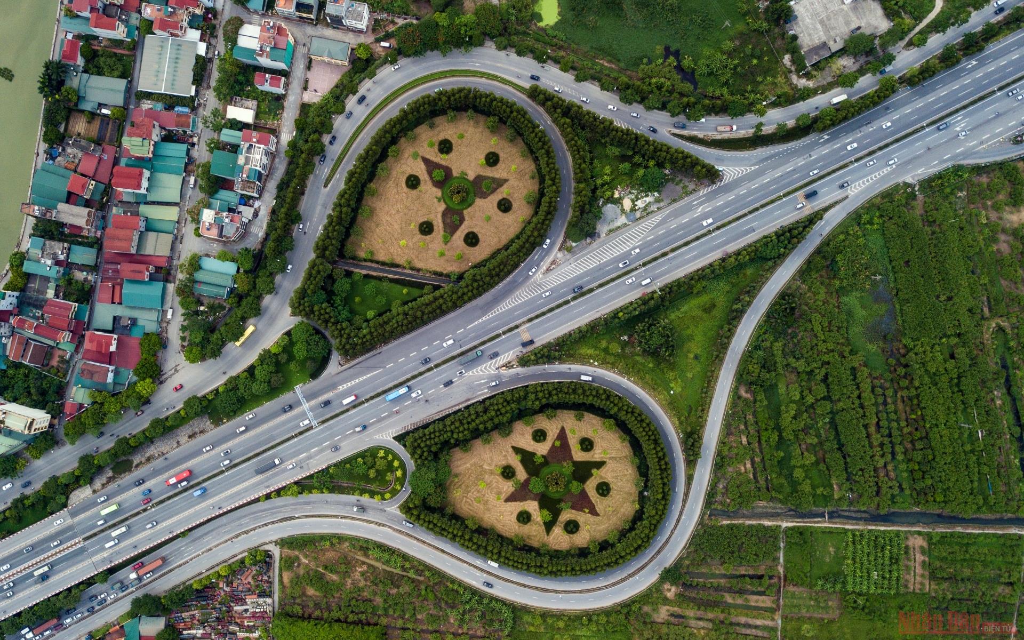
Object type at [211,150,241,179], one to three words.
house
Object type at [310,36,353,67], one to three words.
building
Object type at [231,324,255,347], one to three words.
bus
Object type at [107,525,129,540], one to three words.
vehicle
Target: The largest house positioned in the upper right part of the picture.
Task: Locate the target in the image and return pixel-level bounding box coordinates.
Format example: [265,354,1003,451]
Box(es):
[801,42,831,66]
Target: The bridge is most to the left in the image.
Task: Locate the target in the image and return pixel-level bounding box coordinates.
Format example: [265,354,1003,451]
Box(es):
[0,509,96,619]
